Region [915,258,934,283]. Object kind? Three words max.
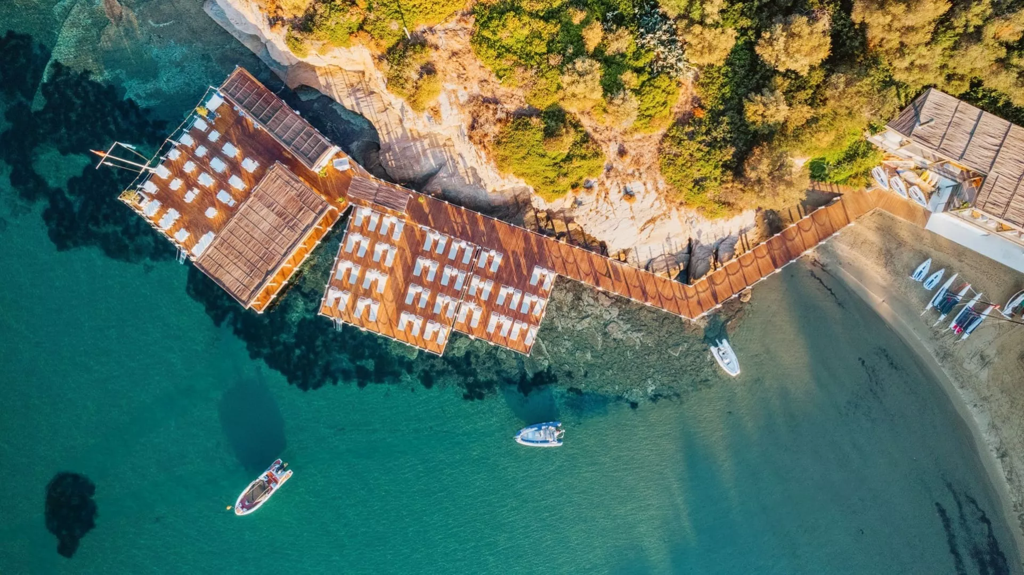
boat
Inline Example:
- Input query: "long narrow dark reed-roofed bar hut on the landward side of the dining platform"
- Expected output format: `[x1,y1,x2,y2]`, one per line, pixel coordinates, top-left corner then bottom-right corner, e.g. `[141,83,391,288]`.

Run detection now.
[213,62,343,173]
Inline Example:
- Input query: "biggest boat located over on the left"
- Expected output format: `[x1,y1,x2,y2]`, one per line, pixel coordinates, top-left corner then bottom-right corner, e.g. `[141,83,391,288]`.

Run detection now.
[237,458,293,514]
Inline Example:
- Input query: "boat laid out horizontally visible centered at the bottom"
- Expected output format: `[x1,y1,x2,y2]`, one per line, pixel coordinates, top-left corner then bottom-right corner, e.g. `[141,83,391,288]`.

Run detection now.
[514,420,563,445]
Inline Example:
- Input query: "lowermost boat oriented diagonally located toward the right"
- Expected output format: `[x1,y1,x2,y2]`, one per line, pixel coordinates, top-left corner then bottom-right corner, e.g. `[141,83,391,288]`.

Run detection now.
[710,338,738,375]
